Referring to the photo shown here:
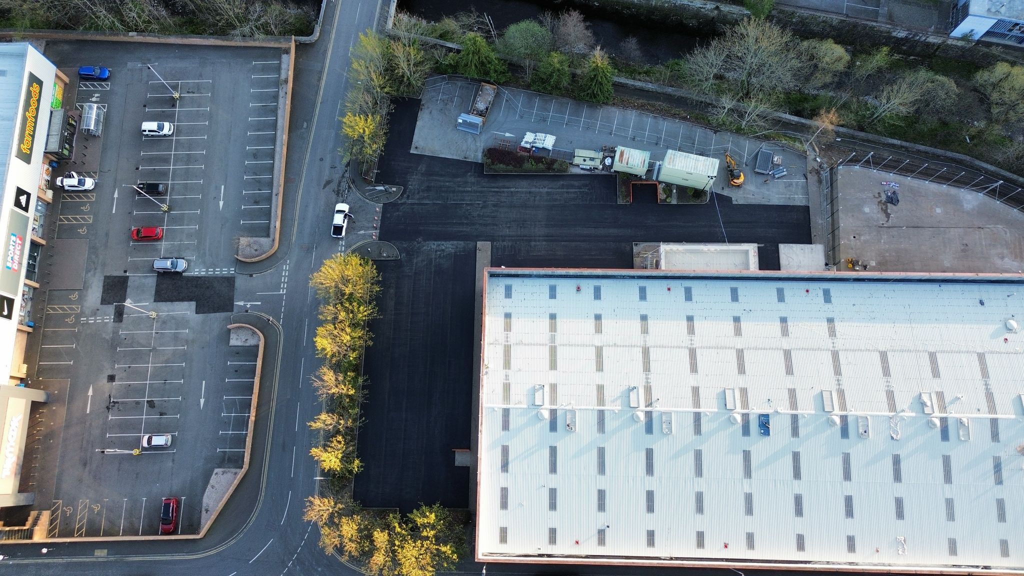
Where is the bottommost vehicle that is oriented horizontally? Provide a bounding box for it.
[141,433,173,448]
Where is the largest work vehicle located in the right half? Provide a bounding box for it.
[727,153,746,184]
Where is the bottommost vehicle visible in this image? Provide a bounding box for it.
[159,497,179,532]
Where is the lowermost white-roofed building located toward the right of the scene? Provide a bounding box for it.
[476,268,1024,564]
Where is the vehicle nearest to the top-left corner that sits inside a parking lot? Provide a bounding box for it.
[78,66,112,81]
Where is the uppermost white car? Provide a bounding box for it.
[140,121,174,136]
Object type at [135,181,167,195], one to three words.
car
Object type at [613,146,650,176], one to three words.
building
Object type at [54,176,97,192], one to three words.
car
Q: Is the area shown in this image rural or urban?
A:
urban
